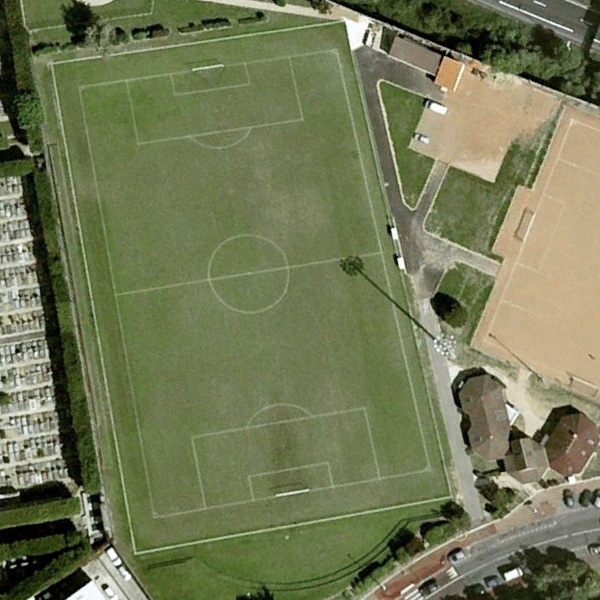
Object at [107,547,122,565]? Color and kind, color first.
white vehicle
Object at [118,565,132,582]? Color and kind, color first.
white car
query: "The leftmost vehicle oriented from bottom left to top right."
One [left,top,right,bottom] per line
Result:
[421,580,439,595]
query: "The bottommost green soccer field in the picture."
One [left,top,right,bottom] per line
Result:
[48,24,450,554]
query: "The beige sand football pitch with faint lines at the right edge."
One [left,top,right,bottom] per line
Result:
[470,104,600,401]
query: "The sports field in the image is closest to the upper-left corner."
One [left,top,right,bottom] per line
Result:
[22,0,156,32]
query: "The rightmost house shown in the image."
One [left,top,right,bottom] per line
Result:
[545,412,600,476]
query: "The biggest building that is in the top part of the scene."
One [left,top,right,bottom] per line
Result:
[390,36,444,76]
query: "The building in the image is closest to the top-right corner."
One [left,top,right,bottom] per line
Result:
[436,56,466,91]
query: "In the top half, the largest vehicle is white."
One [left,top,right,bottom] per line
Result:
[424,100,447,114]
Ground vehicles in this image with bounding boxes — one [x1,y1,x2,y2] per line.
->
[594,489,600,509]
[487,575,505,588]
[588,546,600,555]
[104,586,118,600]
[421,580,439,595]
[564,489,575,509]
[503,568,521,582]
[118,565,132,582]
[424,100,447,114]
[448,551,466,564]
[581,488,591,507]
[107,547,122,565]
[414,133,431,145]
